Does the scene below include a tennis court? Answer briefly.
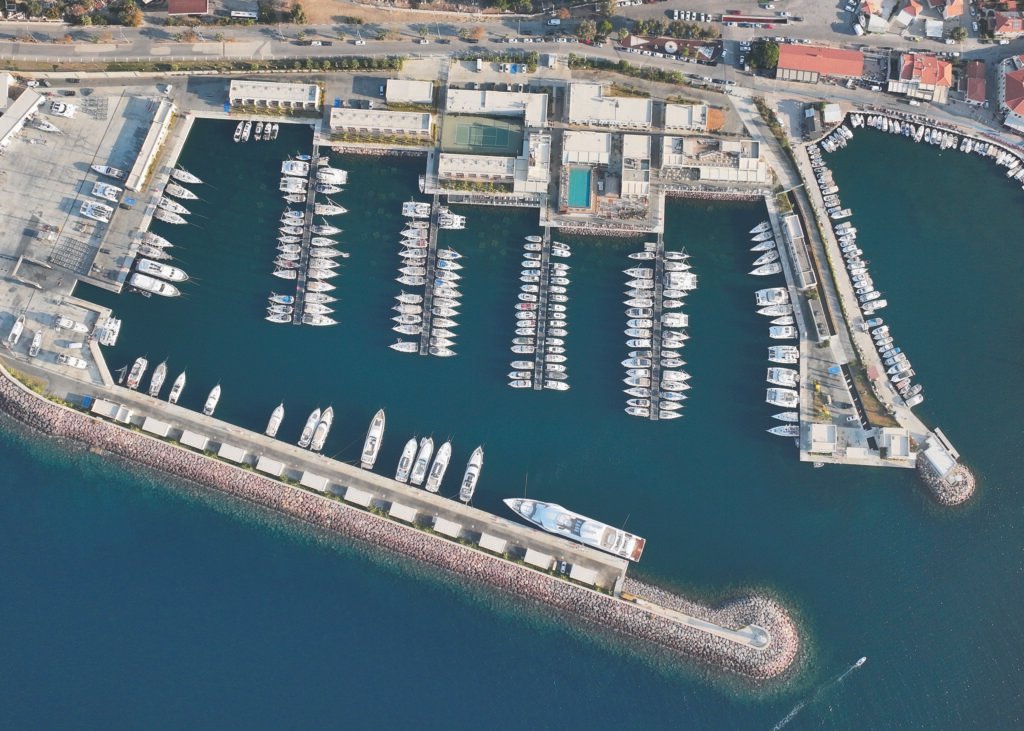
Yes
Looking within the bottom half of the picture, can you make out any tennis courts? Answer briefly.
No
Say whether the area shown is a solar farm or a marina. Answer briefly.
marina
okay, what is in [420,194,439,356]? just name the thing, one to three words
pier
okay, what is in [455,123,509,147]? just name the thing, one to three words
tennis court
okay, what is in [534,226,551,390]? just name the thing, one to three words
pier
